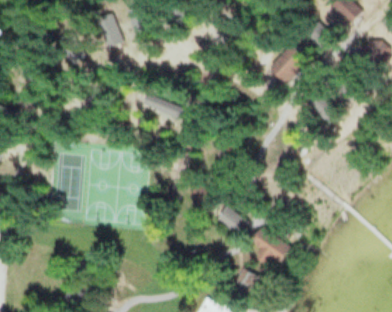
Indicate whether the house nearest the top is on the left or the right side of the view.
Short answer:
right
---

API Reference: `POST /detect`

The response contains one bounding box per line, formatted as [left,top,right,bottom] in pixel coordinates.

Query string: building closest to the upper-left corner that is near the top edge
[100,13,126,47]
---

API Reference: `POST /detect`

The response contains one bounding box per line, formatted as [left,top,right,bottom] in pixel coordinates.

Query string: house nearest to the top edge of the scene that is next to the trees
[333,0,363,26]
